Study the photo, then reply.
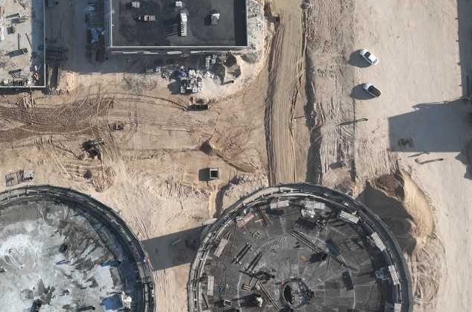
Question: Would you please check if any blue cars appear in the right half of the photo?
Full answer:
No, I see no blue car in the right half of the photo.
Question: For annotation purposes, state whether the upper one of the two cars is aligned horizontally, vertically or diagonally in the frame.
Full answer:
I'd say the upper one of the two cars is aligned diagonally in the picture.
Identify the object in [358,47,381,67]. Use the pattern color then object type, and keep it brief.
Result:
white car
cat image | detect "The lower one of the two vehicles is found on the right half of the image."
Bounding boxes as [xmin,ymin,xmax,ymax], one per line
[361,82,385,100]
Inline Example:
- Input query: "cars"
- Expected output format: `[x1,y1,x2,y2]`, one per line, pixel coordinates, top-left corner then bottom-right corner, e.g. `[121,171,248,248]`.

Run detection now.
[361,82,385,100]
[358,47,381,67]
